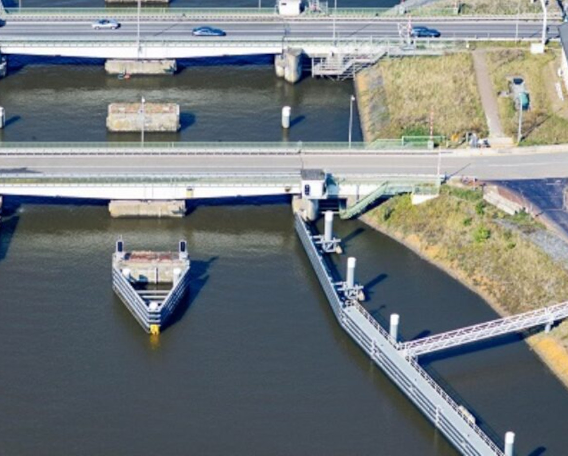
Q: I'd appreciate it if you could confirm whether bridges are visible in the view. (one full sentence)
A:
Yes, the photo shows a bridge.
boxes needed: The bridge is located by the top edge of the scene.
[0,5,484,82]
